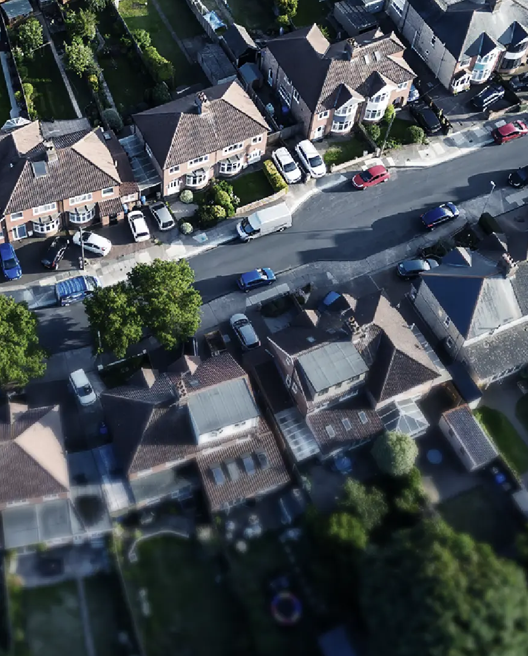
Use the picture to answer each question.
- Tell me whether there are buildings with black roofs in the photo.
Yes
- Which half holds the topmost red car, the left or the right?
right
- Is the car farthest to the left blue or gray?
blue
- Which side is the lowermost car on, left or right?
left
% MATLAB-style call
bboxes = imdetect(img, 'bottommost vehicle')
[68,365,100,408]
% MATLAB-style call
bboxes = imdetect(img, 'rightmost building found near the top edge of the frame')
[406,0,528,89]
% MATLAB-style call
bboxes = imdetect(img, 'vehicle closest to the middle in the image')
[227,311,263,349]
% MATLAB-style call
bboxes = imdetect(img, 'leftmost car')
[0,239,22,282]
